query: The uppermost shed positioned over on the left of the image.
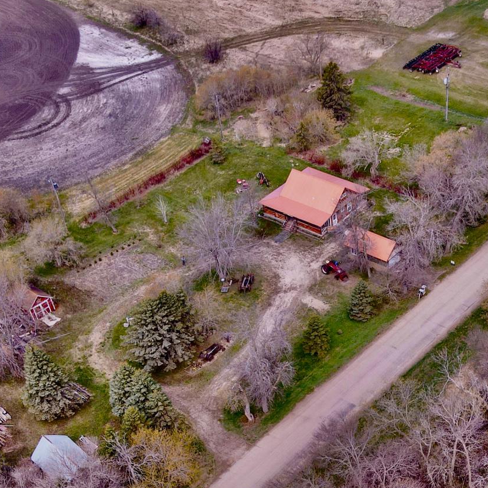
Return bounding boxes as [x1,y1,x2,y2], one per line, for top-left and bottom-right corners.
[13,283,55,320]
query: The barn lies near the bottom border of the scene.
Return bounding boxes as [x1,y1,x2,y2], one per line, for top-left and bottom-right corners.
[30,434,102,488]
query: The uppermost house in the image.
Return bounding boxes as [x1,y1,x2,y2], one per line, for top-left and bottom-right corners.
[259,168,370,243]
